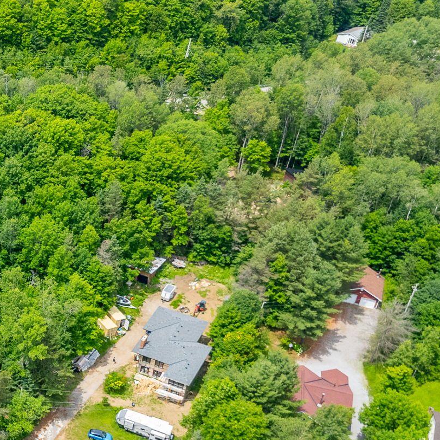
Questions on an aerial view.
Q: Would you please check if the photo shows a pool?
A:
No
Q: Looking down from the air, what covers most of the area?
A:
trees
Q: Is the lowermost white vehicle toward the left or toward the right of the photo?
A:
left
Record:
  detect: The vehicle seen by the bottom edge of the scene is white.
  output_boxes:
[119,410,181,440]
